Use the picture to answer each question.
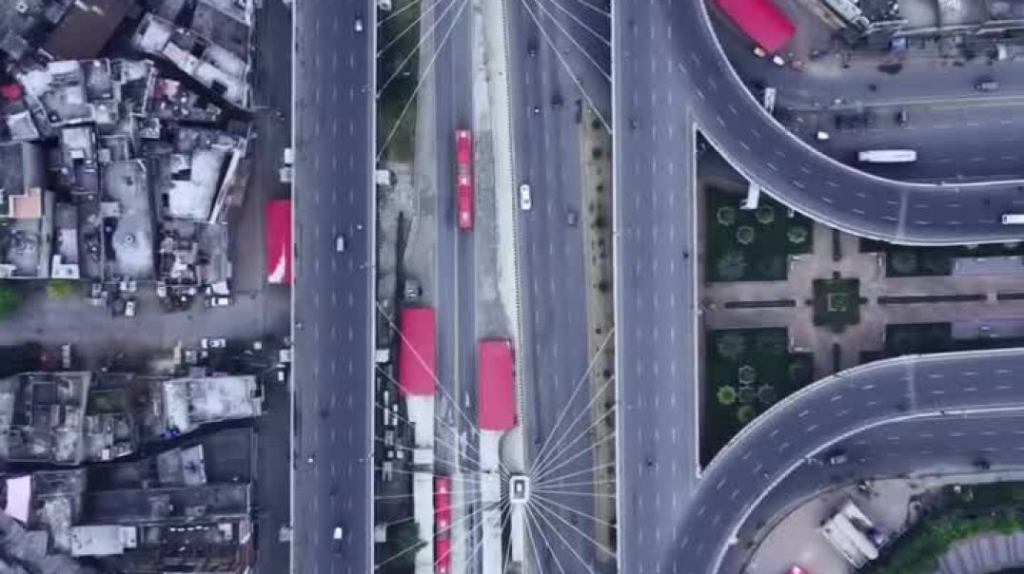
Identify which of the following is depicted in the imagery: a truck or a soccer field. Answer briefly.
truck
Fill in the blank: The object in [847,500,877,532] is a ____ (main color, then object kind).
white truck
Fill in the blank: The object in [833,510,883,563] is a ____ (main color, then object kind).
white truck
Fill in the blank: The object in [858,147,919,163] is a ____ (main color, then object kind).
white vehicle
